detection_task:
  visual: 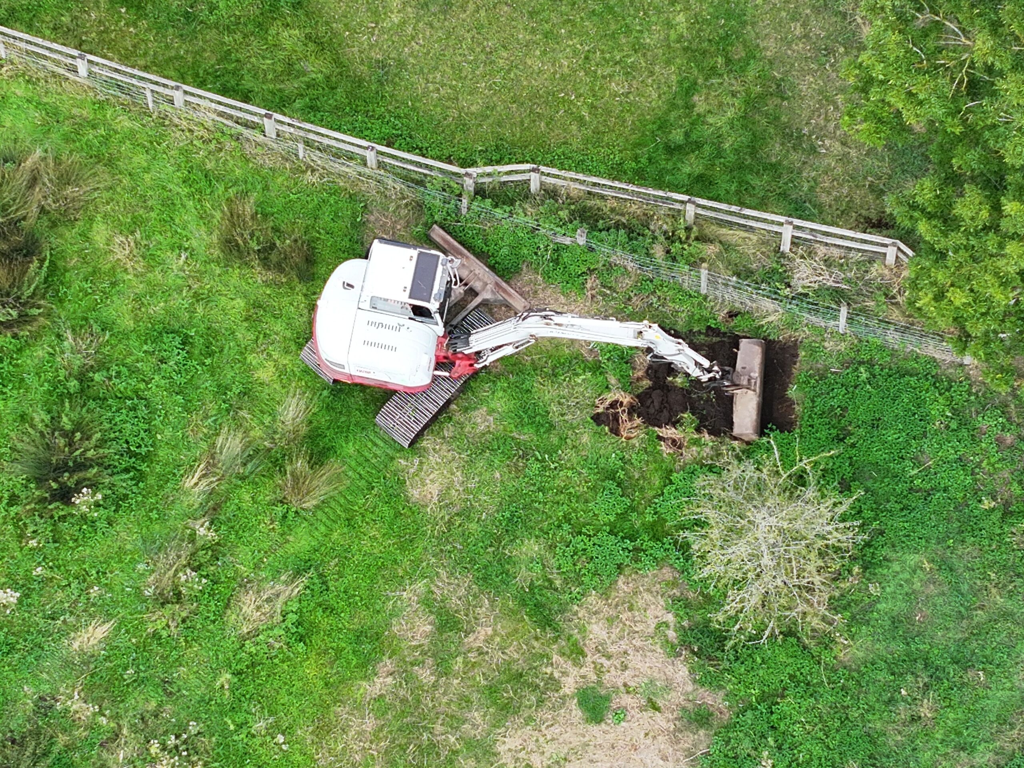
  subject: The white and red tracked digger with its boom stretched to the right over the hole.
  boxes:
[297,218,764,449]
